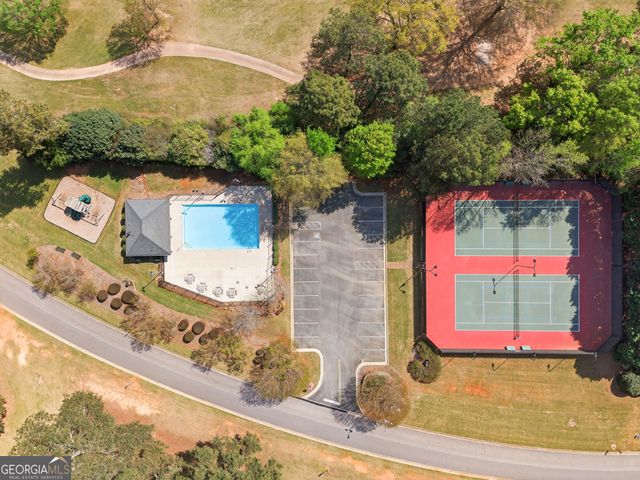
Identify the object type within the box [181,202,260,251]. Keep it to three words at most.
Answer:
swimming pool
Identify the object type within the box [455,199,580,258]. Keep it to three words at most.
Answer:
tennis court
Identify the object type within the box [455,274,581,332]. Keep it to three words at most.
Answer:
tennis court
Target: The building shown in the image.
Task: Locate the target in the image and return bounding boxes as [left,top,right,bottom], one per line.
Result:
[126,199,174,256]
